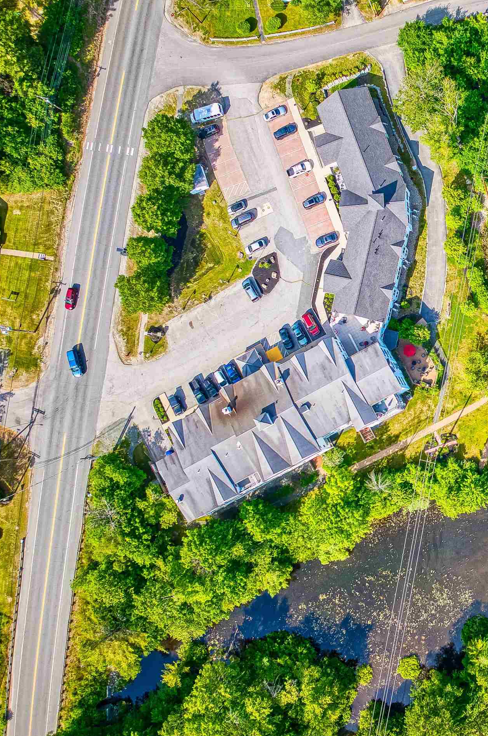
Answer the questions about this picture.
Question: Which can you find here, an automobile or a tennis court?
automobile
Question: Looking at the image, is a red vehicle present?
Yes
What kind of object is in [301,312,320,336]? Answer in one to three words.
car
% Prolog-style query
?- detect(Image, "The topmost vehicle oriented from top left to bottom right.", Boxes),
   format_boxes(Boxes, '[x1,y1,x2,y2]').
[239,278,263,300]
